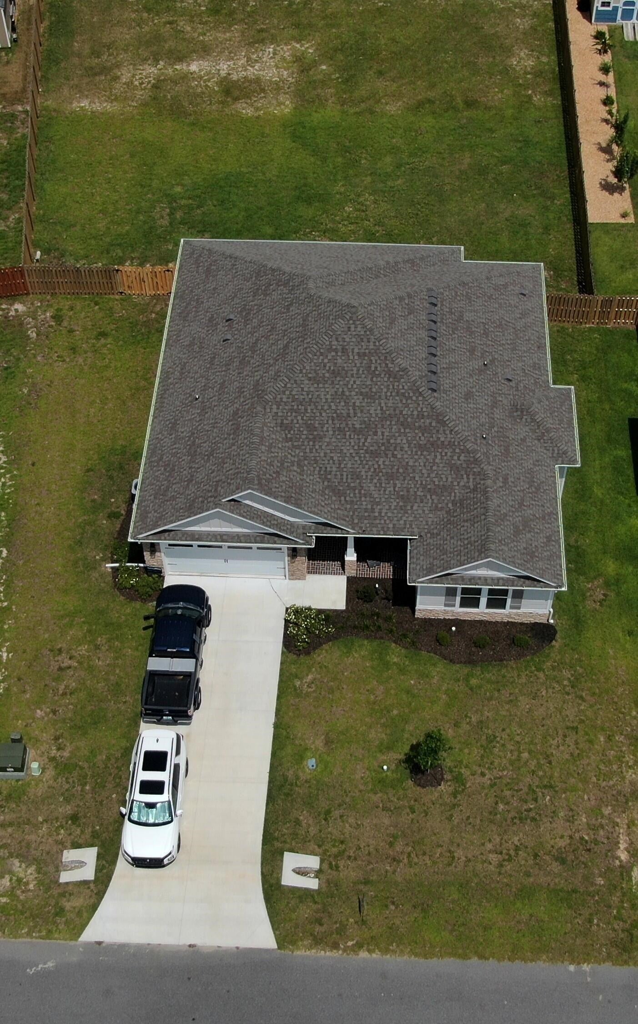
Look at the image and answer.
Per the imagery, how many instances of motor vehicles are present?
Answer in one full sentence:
In total, there are 2 motor vehicles in the scene.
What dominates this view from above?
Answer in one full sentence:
The largest share of the image is taken up by grass.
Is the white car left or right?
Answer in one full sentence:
The white car is on the left side of the image.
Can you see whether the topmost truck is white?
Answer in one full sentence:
No, the topmost truck is black.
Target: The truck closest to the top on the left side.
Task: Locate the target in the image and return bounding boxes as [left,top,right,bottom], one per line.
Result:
[141,583,210,724]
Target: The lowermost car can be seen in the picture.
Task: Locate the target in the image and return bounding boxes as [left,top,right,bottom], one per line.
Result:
[121,728,189,872]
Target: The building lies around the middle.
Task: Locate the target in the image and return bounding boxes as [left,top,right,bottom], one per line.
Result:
[130,238,580,629]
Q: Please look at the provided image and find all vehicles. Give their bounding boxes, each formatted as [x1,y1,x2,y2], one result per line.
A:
[121,728,189,872]
[141,583,210,724]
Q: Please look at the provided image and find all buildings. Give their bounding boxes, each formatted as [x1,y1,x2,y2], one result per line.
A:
[0,0,20,47]
[130,238,580,629]
[590,0,638,24]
